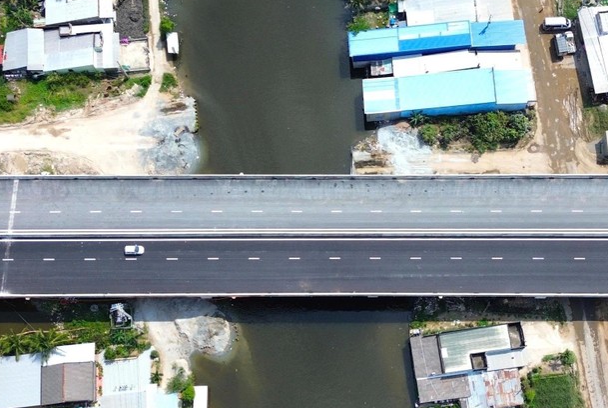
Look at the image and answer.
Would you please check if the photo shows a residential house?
Yes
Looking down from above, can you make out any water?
Yes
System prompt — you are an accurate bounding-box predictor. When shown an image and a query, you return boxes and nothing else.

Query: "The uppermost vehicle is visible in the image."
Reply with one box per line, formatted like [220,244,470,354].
[542,19,569,31]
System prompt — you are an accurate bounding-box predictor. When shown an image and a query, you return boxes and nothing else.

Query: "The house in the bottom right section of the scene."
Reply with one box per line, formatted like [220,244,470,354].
[410,325,526,408]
